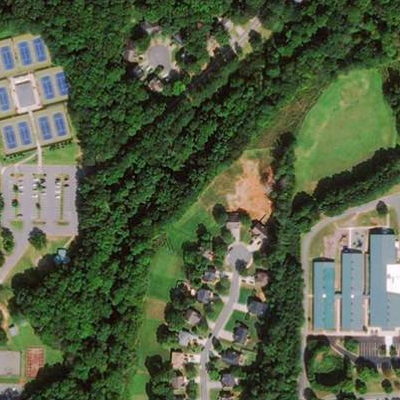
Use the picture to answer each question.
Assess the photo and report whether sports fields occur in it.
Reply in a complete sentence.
Yes, the picture does show a sports field.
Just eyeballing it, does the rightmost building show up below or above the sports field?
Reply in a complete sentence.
In the image, the rightmost building appears below the sports field.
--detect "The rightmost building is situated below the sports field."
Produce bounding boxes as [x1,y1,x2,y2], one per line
[370,233,400,335]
